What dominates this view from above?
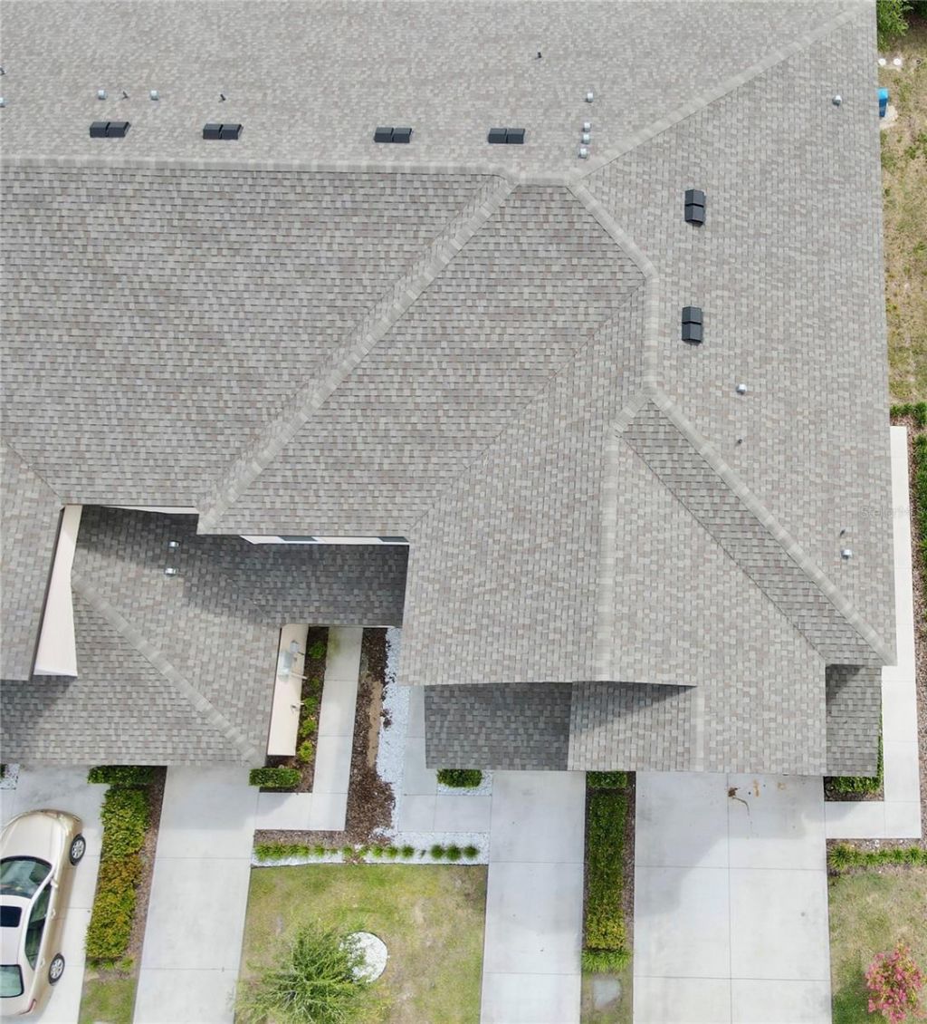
buildings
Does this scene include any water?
No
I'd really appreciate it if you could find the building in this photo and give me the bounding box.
[0,0,896,776]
